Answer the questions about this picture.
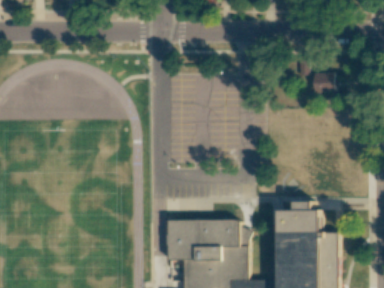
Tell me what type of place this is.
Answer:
sports ground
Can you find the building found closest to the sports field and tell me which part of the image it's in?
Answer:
bottom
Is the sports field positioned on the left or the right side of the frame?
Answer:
left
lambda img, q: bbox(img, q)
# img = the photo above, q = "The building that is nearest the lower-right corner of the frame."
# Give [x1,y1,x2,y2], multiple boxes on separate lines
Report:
[275,201,344,288]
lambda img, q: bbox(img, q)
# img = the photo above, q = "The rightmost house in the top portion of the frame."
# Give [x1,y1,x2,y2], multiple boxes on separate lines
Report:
[314,72,336,92]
